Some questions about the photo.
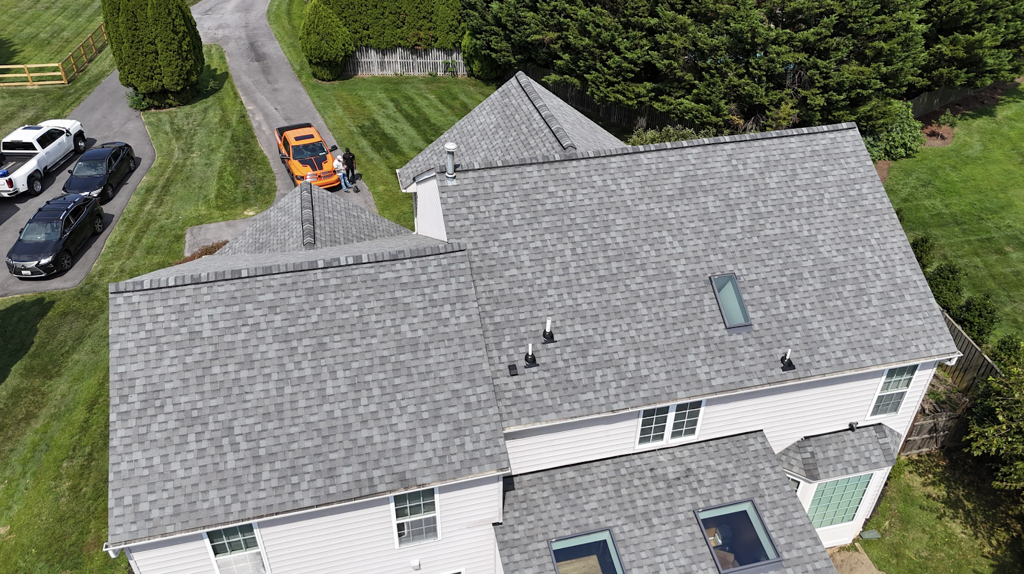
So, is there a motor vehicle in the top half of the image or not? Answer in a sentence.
Yes, there is a motor vehicle in the top half of the image.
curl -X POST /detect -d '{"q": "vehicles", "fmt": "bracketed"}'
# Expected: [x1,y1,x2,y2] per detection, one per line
[0,117,87,199]
[61,141,136,200]
[273,122,339,192]
[5,193,105,280]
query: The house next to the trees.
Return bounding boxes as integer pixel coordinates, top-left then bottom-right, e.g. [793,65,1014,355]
[103,70,963,574]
